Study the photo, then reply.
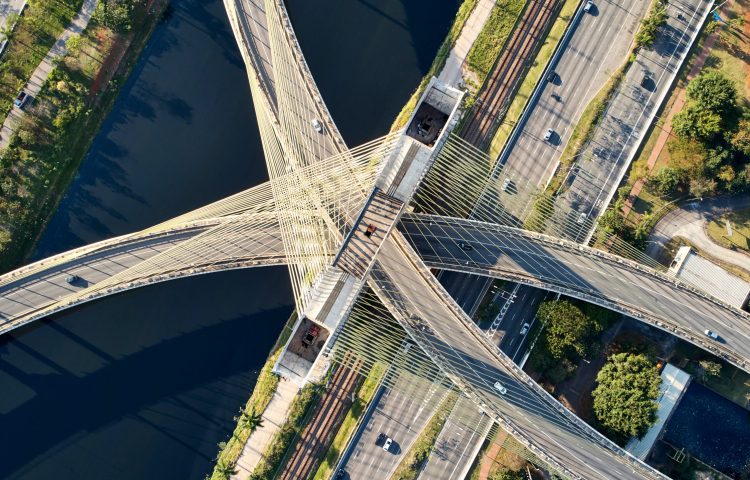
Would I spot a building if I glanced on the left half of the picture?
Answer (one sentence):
No, the scene shows no building on the left half of the picture.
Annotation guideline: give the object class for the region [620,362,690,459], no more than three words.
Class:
building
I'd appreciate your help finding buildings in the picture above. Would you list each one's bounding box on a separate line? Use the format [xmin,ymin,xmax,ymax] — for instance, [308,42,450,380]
[659,243,750,306]
[620,362,690,459]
